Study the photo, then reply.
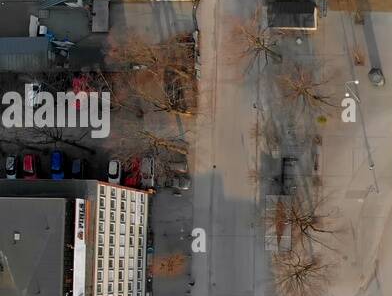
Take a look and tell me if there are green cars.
No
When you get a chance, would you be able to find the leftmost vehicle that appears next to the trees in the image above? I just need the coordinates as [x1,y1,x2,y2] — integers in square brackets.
[1,152,17,181]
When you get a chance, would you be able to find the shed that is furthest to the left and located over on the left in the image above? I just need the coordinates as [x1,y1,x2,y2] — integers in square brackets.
[0,34,46,71]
